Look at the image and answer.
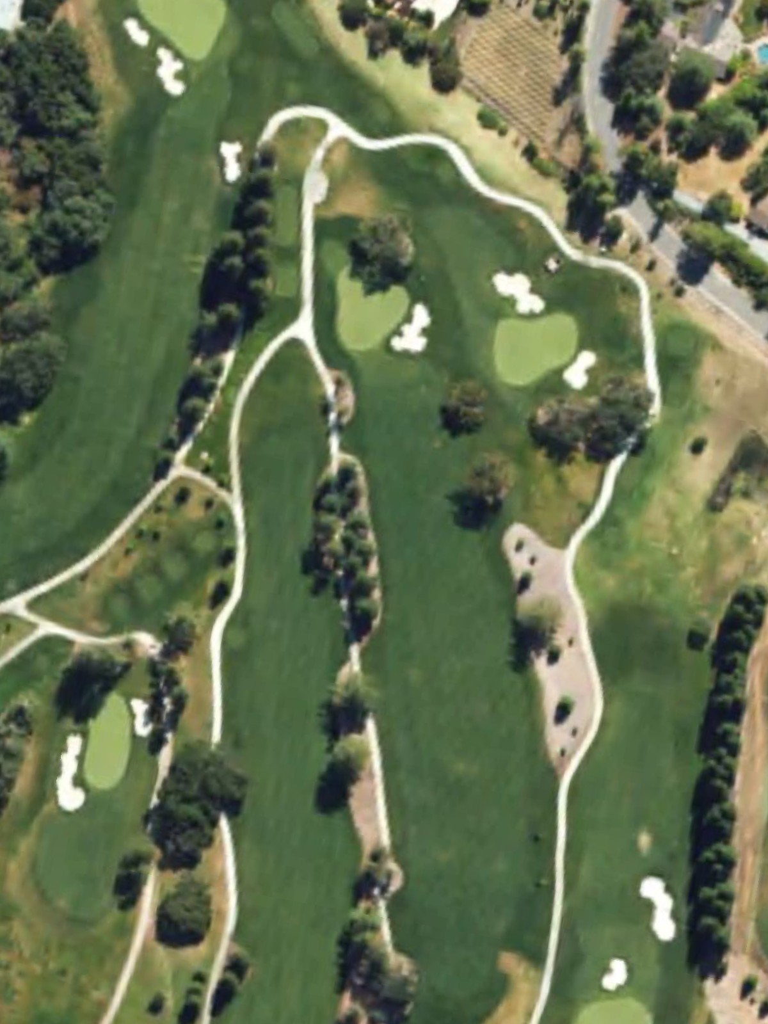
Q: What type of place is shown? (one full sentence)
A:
The picture captures a golf course.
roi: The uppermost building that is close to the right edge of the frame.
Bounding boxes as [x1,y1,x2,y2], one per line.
[681,0,737,45]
